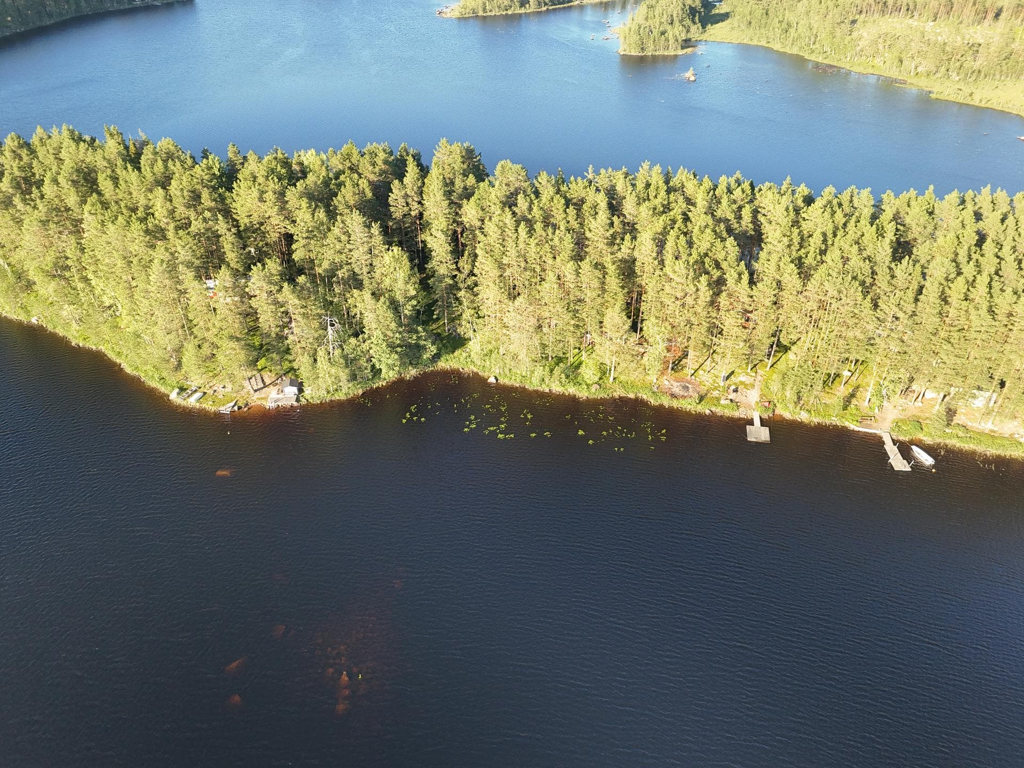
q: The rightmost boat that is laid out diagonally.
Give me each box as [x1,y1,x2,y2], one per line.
[910,444,938,467]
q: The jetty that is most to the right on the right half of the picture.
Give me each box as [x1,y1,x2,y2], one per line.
[881,432,914,472]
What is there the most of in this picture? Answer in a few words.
water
